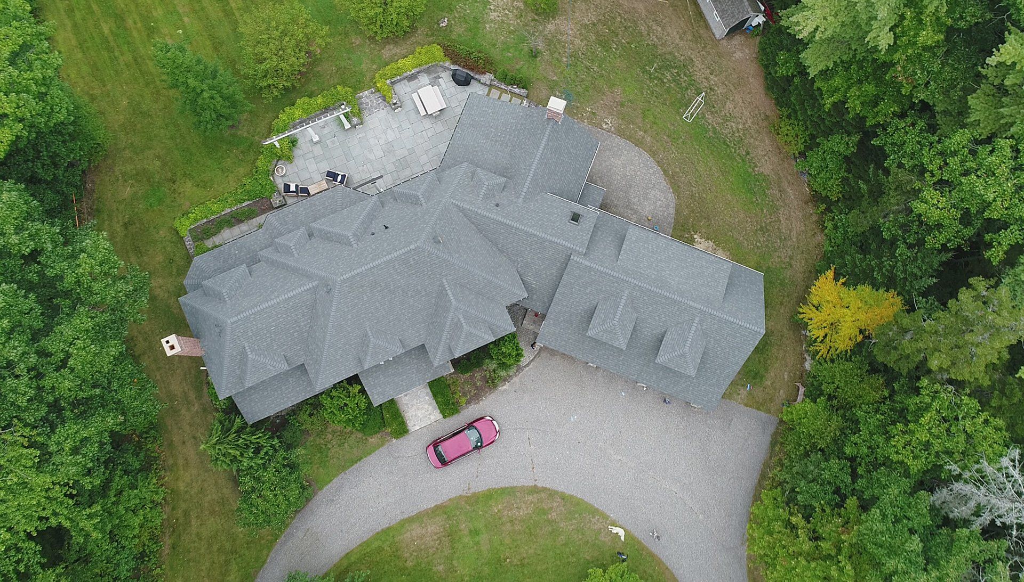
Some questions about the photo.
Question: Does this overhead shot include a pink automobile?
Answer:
Yes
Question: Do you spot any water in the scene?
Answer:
No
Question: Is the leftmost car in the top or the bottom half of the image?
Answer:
bottom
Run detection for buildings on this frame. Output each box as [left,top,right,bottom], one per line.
[161,93,765,424]
[686,0,765,46]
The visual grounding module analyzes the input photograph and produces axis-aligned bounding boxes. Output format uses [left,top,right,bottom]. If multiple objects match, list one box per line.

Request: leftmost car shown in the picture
[425,419,501,468]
